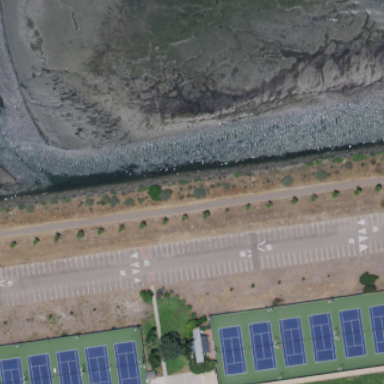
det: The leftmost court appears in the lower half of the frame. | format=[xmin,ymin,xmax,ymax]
[0,358,24,384]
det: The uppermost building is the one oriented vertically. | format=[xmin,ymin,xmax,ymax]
[194,329,210,363]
